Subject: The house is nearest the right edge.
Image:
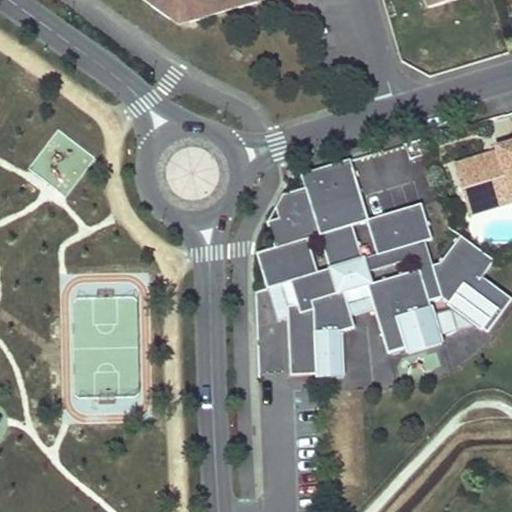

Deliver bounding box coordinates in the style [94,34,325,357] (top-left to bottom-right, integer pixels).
[454,142,512,214]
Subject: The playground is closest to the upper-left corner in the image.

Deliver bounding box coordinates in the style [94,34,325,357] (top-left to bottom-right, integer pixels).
[28,129,96,198]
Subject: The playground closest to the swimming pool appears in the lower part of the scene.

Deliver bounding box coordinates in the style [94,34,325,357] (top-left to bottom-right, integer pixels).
[397,353,441,383]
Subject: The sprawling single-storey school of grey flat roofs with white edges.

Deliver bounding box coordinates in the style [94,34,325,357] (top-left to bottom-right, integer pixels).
[256,158,511,378]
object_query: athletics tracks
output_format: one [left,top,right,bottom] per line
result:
[60,273,152,424]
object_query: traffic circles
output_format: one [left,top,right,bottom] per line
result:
[136,110,256,244]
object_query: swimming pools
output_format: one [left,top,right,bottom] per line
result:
[468,204,512,242]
